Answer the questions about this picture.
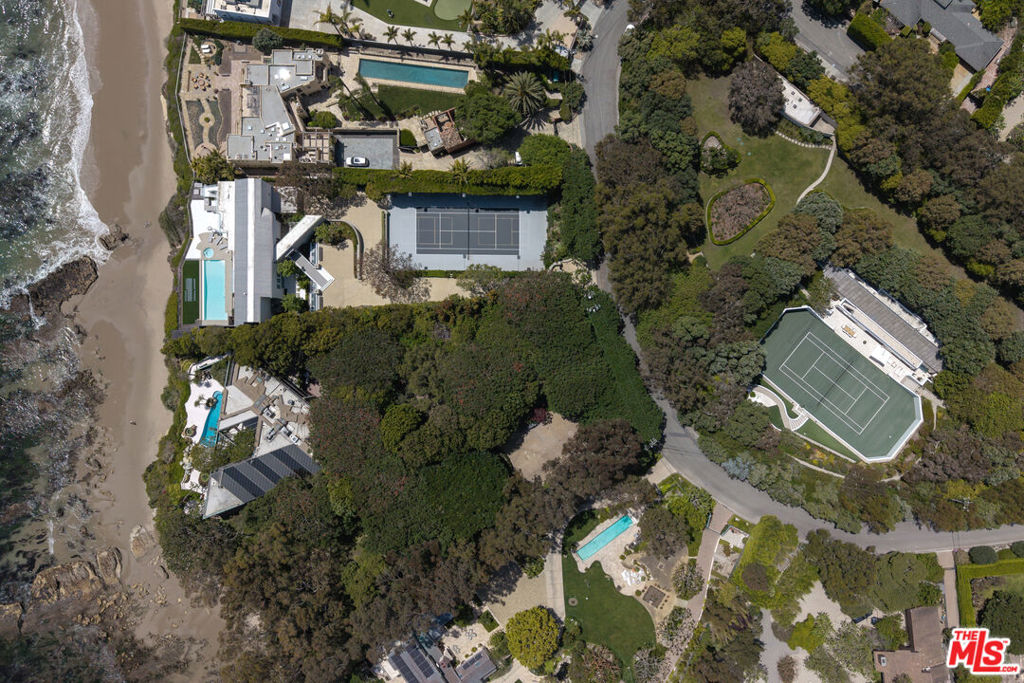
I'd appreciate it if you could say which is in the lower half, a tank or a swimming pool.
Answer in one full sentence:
Visible in the lower half is a swimming pool.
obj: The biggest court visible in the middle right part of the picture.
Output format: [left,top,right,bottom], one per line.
[756,304,925,465]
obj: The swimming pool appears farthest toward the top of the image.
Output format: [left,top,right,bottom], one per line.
[357,57,470,90]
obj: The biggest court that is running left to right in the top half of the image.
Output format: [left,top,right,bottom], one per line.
[388,195,548,271]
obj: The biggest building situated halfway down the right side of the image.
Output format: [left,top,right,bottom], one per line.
[822,266,939,385]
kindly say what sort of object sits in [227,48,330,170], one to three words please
house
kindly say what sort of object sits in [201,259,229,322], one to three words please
swimming pool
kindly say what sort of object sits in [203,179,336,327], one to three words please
house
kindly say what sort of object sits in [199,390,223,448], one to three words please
swimming pool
